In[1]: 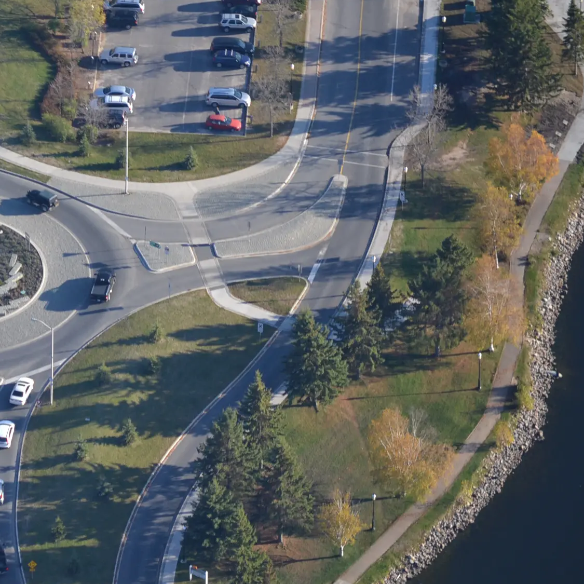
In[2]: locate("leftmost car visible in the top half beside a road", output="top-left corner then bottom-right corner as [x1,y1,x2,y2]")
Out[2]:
[22,185,62,209]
